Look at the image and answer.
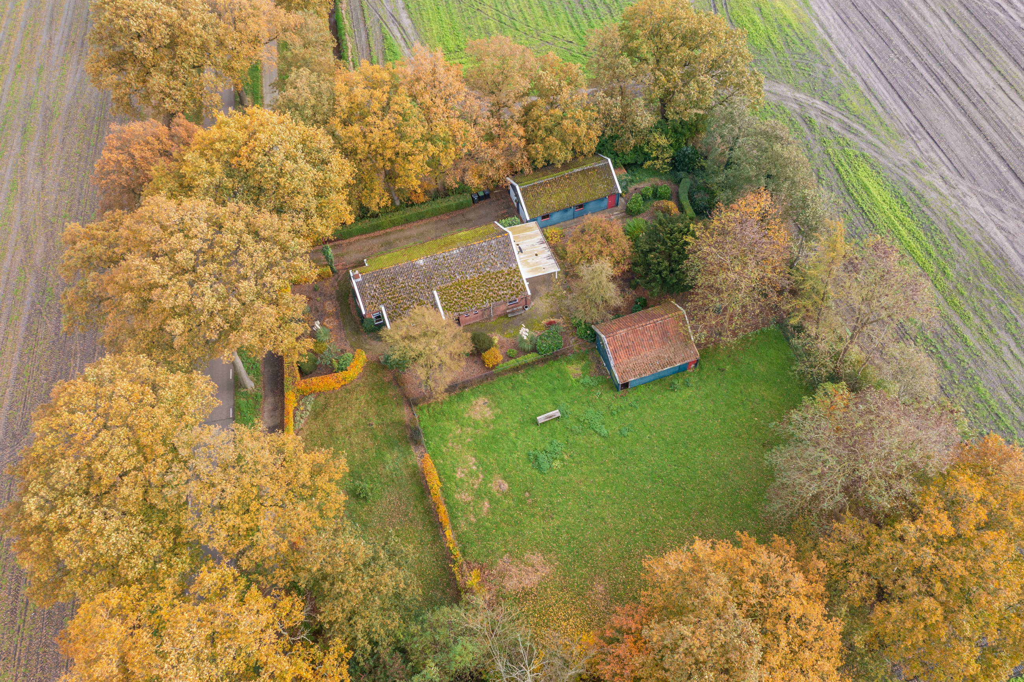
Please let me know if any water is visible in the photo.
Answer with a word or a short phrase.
No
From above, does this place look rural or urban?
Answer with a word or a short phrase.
rural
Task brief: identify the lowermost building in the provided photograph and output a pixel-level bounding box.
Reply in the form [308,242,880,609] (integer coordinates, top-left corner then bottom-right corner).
[594,301,701,393]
